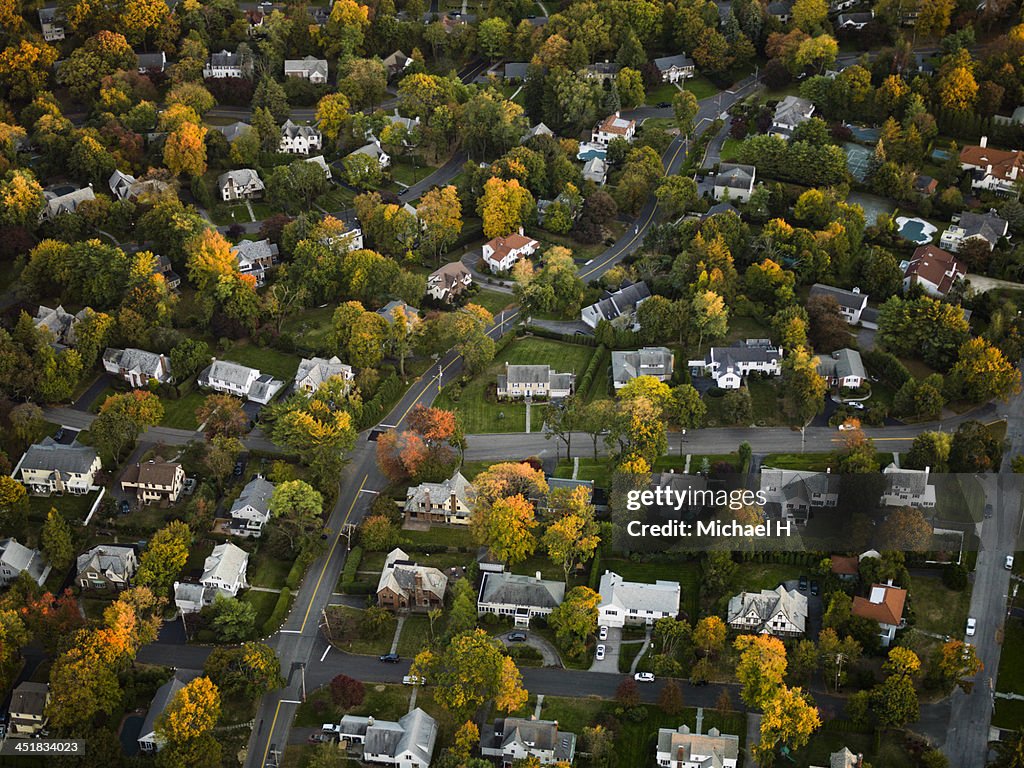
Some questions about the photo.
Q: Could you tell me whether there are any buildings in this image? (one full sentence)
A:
Yes, I can see a building in this picture.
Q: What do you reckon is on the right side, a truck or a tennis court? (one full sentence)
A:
The feature located on the right side is a tennis court.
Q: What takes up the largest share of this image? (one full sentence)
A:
What you mostly see from above here is trees.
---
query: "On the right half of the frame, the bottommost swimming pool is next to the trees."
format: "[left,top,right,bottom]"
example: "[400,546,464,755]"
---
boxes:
[896,216,937,244]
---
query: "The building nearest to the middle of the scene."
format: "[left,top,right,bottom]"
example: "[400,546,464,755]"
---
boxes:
[494,362,572,399]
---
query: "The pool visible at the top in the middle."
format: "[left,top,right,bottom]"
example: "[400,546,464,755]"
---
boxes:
[577,143,609,161]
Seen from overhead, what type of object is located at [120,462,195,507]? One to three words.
house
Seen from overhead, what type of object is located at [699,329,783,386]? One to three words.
house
